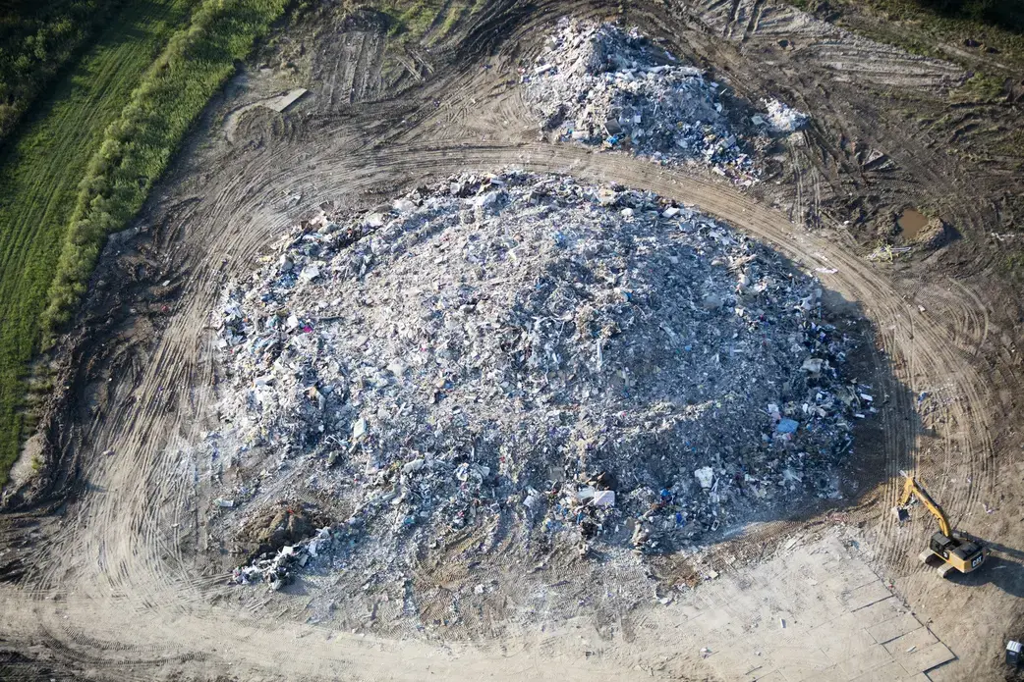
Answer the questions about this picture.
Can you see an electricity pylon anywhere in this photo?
No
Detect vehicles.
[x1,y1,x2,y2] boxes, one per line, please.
[881,472,987,572]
